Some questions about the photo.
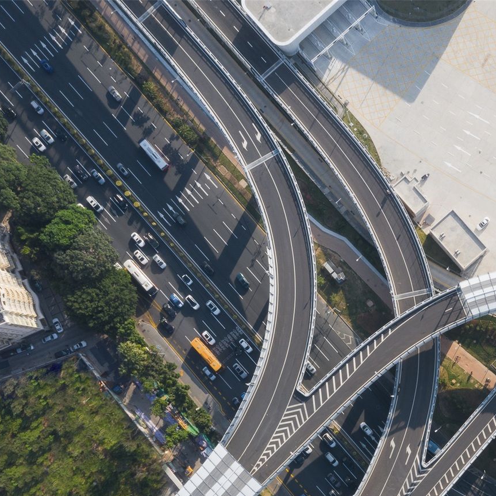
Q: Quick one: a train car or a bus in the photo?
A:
bus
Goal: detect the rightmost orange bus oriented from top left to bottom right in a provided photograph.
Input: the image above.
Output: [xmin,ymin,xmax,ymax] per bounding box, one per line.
[186,337,222,374]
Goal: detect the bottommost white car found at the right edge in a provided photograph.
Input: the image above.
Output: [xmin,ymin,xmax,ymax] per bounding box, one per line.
[477,214,492,232]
